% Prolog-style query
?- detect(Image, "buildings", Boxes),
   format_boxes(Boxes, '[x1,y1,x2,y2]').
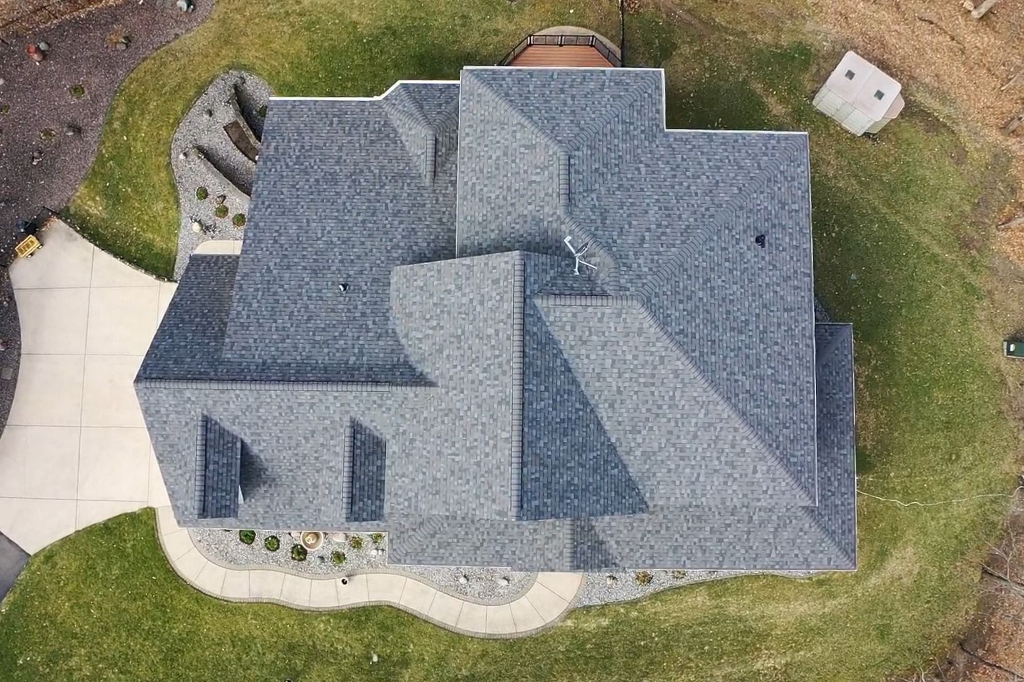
[133,64,859,573]
[810,51,902,136]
